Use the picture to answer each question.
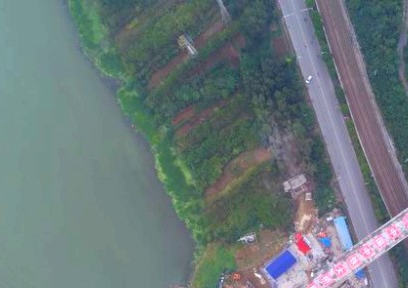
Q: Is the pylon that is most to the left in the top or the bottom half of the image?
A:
top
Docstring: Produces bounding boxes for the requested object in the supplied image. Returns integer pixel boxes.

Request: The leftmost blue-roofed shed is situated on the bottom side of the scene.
[268,251,294,277]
